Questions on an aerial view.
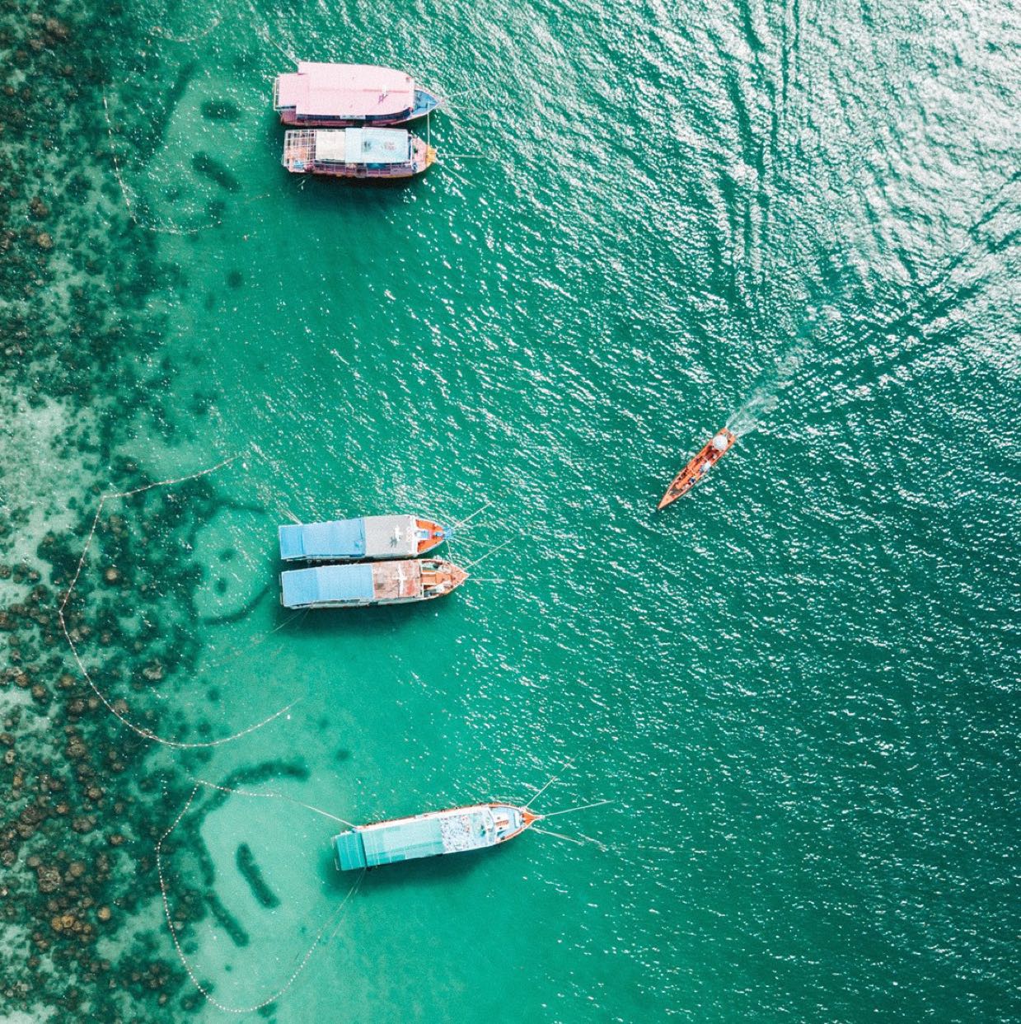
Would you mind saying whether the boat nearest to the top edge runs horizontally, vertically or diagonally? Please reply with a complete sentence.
From this overhead view, the boat nearest to the top edge appears to run horizontally.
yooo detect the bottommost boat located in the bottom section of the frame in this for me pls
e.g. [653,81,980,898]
[335,799,544,871]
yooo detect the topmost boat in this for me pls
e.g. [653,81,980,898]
[273,63,441,128]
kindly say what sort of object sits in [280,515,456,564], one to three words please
boat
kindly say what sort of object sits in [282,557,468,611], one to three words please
boat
